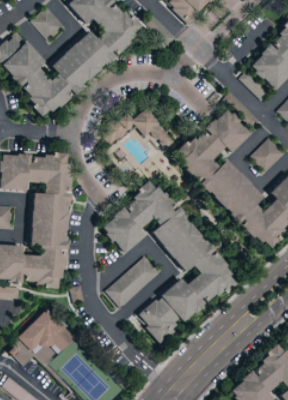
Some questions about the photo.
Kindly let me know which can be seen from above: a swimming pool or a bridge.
swimming pool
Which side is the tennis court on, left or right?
left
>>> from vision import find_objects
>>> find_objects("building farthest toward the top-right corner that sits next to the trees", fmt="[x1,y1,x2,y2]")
[254,34,288,90]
